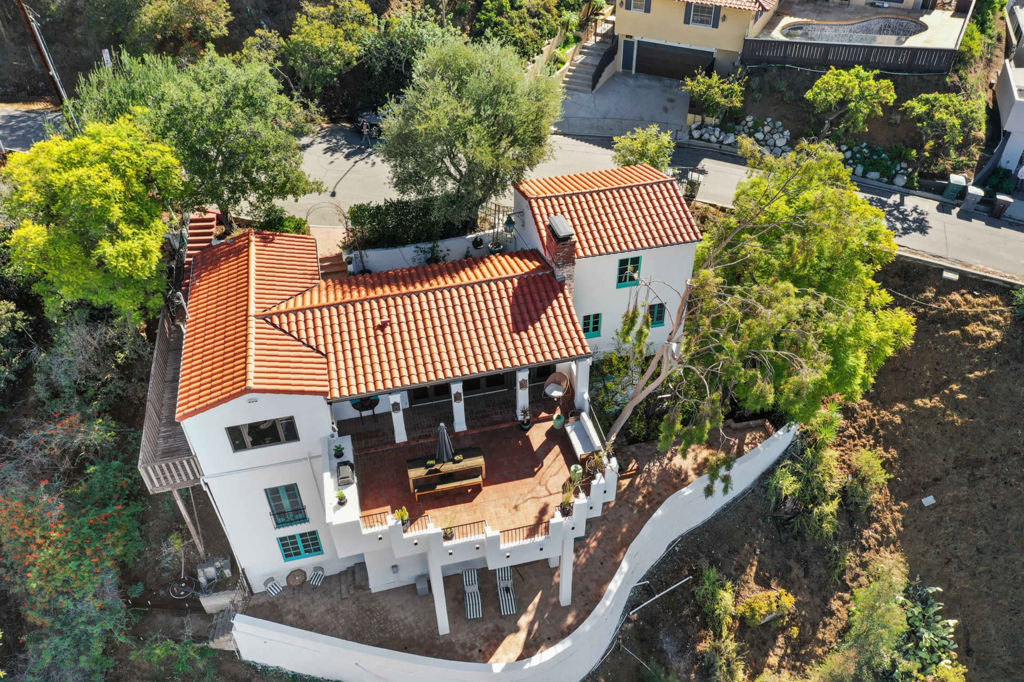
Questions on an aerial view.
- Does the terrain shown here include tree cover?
Yes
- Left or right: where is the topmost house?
right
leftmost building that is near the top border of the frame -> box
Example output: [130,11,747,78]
[614,0,769,83]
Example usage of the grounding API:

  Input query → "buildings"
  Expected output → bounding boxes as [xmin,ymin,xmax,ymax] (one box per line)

[990,7,1024,189]
[133,162,706,636]
[614,0,769,83]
